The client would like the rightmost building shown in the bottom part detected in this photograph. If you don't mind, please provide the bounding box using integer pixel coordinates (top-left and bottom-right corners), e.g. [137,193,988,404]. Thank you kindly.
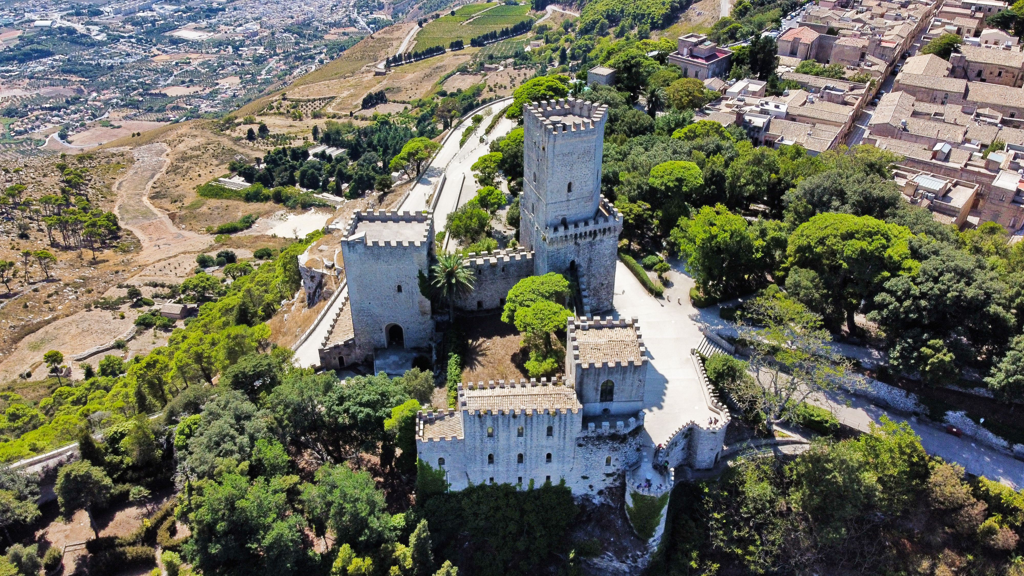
[694,405,732,458]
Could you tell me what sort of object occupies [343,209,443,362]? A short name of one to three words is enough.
building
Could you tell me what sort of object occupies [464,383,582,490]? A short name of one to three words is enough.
house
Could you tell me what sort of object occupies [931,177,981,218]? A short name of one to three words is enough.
house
